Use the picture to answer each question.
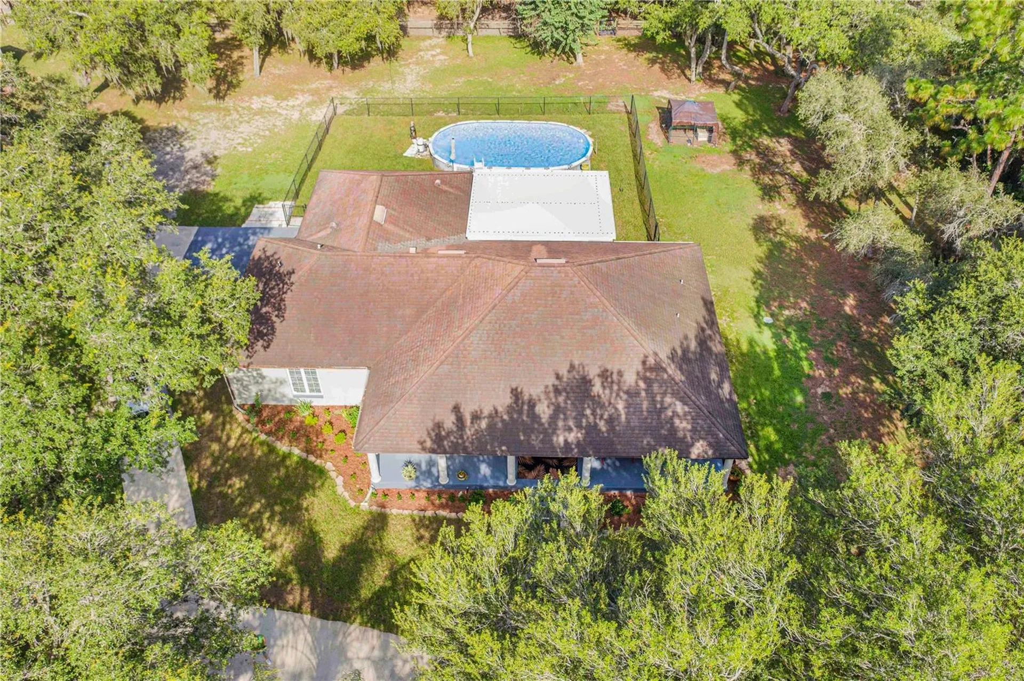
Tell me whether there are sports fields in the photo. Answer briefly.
No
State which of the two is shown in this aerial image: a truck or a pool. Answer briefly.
pool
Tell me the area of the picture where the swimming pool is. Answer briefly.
top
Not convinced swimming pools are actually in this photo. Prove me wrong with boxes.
[426,120,593,182]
